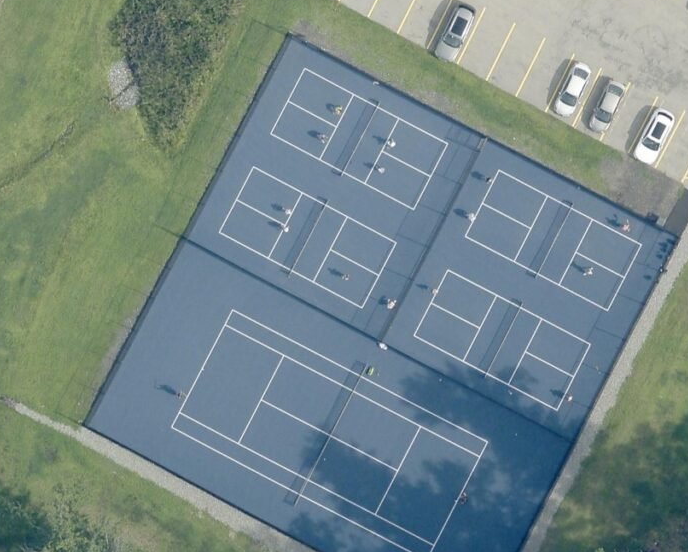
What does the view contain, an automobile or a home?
automobile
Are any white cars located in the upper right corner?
Yes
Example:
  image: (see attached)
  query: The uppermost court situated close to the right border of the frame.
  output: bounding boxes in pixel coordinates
[434,137,676,338]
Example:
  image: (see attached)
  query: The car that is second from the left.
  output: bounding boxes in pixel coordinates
[553,61,594,116]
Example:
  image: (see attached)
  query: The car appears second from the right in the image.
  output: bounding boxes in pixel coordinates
[587,79,626,132]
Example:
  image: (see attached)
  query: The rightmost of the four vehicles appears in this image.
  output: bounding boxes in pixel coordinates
[634,107,675,164]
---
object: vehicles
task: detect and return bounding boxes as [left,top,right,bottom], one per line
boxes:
[553,61,594,116]
[587,79,626,132]
[435,5,477,61]
[634,107,675,164]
